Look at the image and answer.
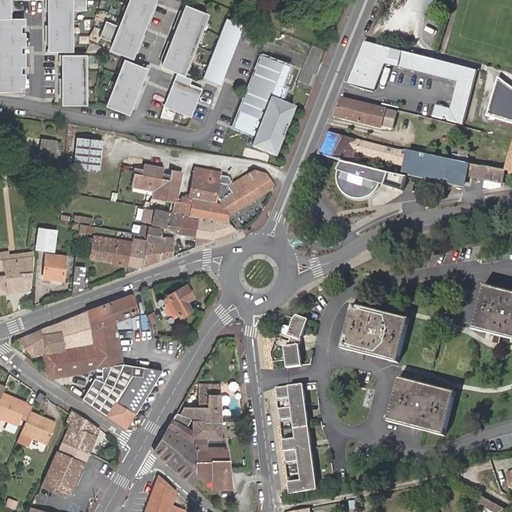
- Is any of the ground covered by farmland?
No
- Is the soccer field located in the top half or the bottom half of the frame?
top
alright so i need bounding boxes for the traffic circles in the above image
[223,237,296,310]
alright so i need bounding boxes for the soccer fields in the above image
[448,0,512,72]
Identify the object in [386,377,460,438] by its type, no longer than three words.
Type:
building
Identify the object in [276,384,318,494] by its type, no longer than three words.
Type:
building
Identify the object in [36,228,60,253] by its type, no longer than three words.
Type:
barn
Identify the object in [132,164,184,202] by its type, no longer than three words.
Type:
house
